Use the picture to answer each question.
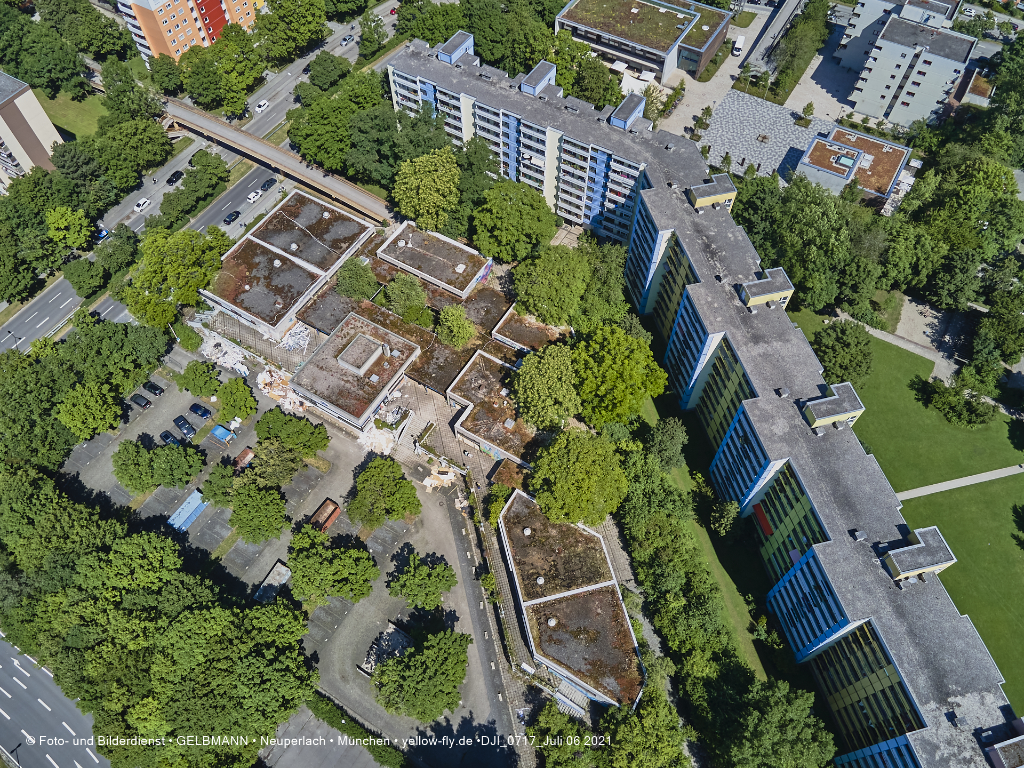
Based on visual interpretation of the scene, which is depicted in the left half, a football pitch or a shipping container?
shipping container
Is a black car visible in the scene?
Yes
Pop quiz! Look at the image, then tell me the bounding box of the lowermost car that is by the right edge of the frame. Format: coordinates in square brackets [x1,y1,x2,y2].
[972,52,990,64]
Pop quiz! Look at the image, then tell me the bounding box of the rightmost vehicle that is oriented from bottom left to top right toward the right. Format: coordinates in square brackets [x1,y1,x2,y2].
[730,35,746,54]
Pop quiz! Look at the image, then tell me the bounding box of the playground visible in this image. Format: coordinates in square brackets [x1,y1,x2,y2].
[896,295,982,352]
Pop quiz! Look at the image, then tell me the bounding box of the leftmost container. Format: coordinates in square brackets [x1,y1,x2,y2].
[168,490,215,536]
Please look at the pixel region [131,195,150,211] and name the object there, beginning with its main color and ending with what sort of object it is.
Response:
white car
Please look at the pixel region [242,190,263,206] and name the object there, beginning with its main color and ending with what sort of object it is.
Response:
white car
